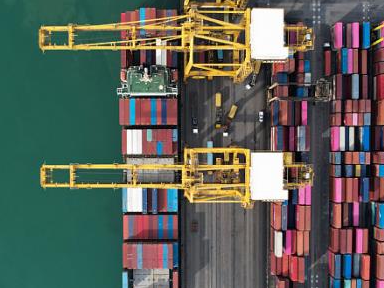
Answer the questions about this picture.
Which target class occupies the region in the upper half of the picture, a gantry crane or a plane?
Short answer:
gantry crane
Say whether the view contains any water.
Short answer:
Yes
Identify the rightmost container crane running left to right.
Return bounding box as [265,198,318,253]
[266,81,333,108]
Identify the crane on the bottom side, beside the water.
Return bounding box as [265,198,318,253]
[38,142,317,207]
